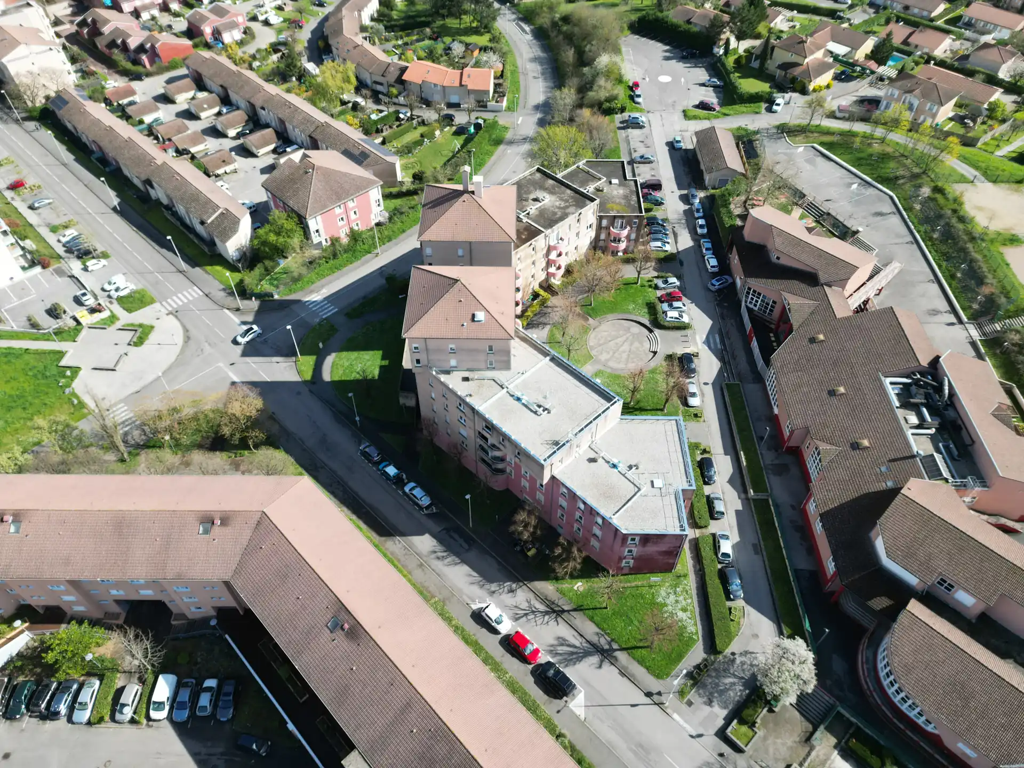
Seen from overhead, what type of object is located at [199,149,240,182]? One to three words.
building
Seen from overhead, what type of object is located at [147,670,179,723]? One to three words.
van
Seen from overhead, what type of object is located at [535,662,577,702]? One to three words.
car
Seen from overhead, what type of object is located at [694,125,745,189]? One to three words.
shed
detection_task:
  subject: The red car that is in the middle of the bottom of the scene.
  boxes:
[508,628,542,665]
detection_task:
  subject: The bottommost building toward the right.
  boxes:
[870,599,1024,768]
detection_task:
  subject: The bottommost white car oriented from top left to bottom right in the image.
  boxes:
[477,599,514,638]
